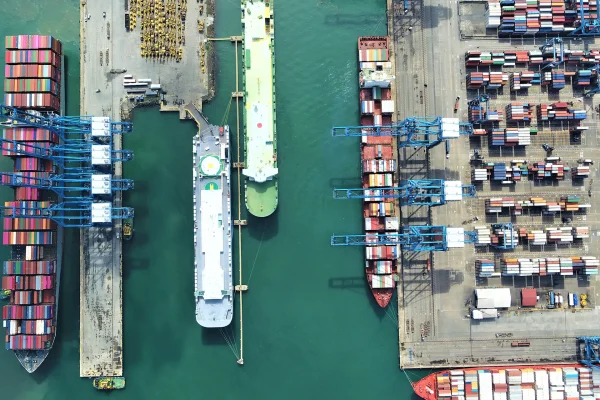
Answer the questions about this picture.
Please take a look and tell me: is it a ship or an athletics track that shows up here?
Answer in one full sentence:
Visible in the photo is a ship.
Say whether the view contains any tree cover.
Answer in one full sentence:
No, the picture contains no tree cover.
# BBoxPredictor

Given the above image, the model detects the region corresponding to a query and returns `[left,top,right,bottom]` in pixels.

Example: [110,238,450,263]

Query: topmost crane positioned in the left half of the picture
[0,107,129,147]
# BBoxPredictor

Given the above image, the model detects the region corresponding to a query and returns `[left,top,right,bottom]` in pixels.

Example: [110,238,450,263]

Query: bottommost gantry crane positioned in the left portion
[0,197,129,226]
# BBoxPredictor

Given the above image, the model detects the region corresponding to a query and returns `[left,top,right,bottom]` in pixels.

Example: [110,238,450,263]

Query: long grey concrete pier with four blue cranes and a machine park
[79,0,208,381]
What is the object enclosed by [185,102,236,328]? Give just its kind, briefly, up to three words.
ship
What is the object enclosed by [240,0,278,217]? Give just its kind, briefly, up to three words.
ship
